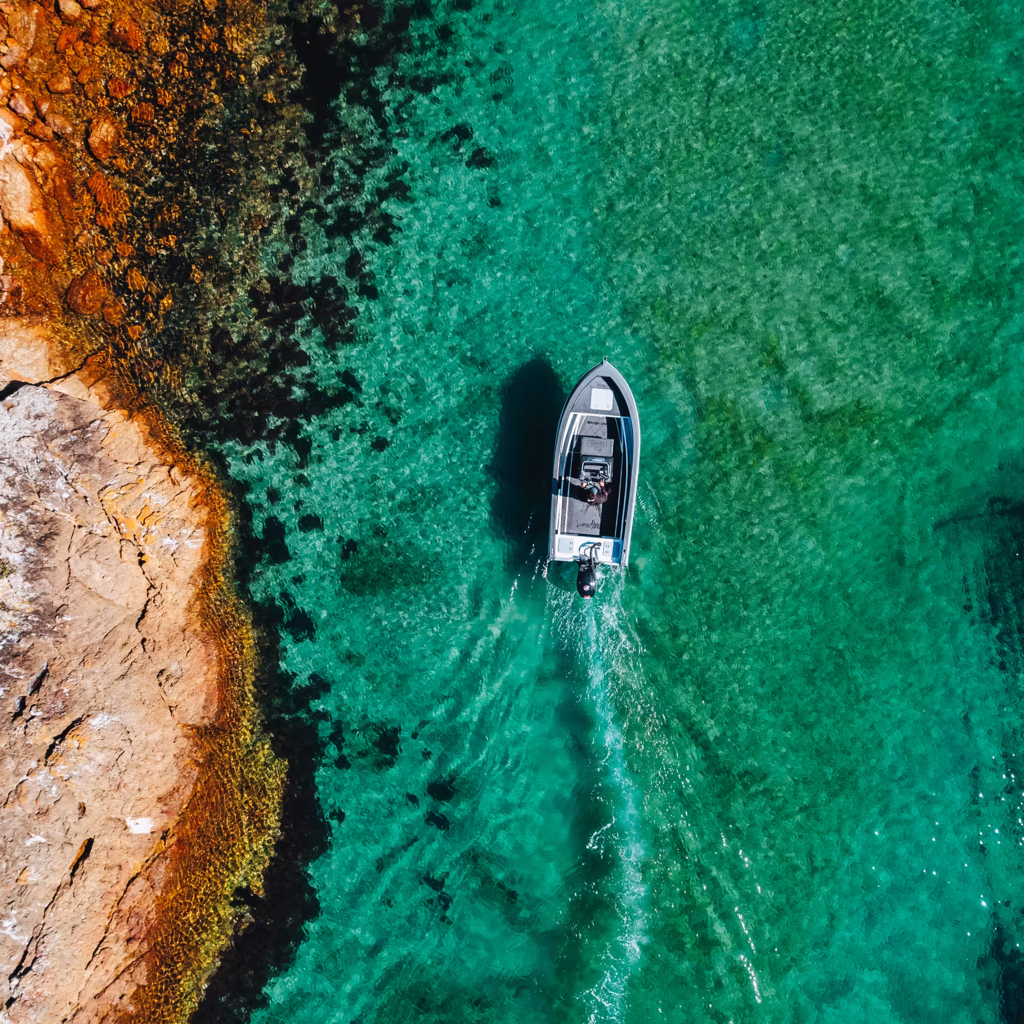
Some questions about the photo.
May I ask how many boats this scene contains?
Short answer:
1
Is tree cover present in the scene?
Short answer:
No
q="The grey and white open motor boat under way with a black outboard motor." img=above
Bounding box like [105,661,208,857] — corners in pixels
[548,356,640,598]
